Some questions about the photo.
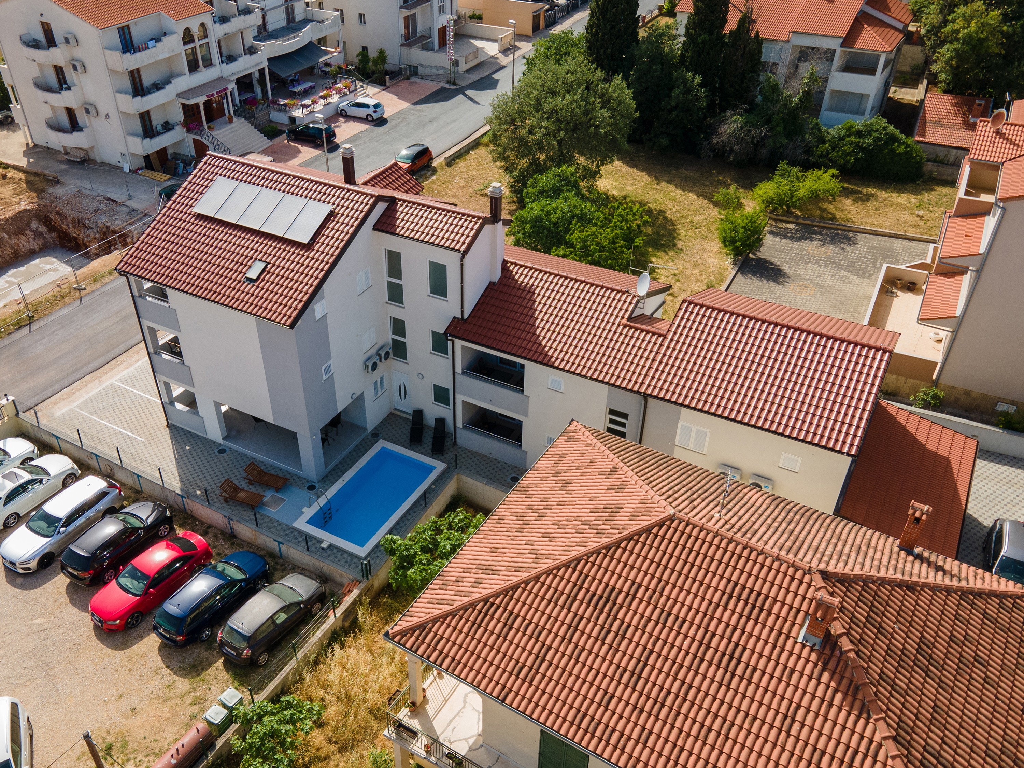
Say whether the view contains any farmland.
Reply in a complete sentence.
No, farmland can't be seen anywhere here.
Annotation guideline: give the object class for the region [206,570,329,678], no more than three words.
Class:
car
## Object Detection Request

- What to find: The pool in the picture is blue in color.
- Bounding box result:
[291,438,448,556]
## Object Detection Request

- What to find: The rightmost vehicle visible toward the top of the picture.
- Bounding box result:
[391,139,439,173]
